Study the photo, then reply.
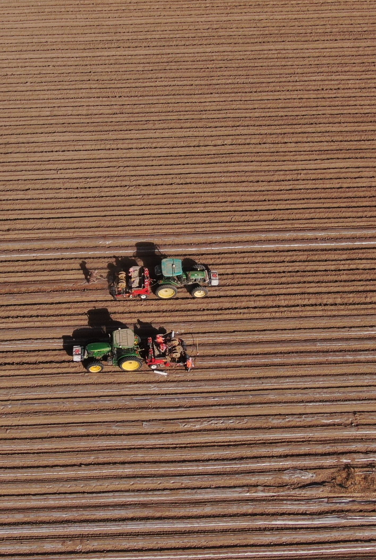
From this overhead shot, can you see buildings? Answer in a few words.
No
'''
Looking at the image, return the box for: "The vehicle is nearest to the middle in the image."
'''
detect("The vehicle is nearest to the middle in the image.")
[149,257,220,300]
